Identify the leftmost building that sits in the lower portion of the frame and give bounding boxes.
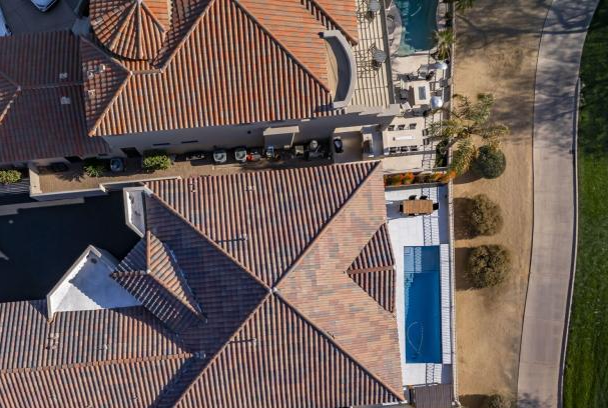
[0,161,405,408]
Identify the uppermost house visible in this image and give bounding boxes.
[0,0,400,170]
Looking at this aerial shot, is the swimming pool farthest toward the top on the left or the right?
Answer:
right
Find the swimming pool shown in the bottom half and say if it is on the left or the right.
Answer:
right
